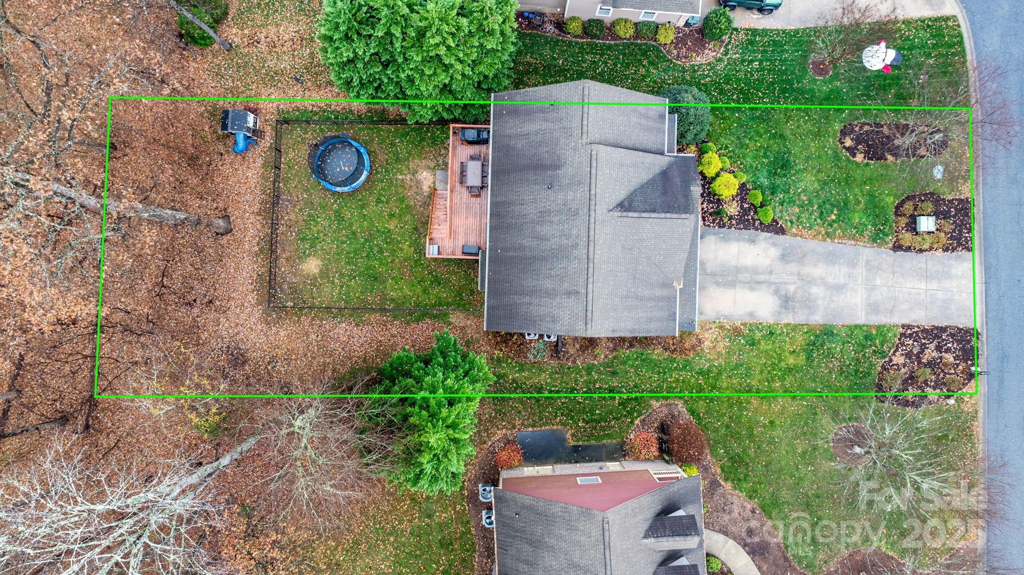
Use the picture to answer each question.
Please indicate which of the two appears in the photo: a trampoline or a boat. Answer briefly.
trampoline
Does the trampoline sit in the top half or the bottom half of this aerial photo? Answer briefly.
top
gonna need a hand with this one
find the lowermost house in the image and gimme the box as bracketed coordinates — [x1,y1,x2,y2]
[492,461,707,575]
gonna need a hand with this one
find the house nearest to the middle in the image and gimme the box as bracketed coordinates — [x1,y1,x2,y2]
[477,80,701,337]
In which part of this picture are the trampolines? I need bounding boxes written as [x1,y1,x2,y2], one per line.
[308,131,370,196]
